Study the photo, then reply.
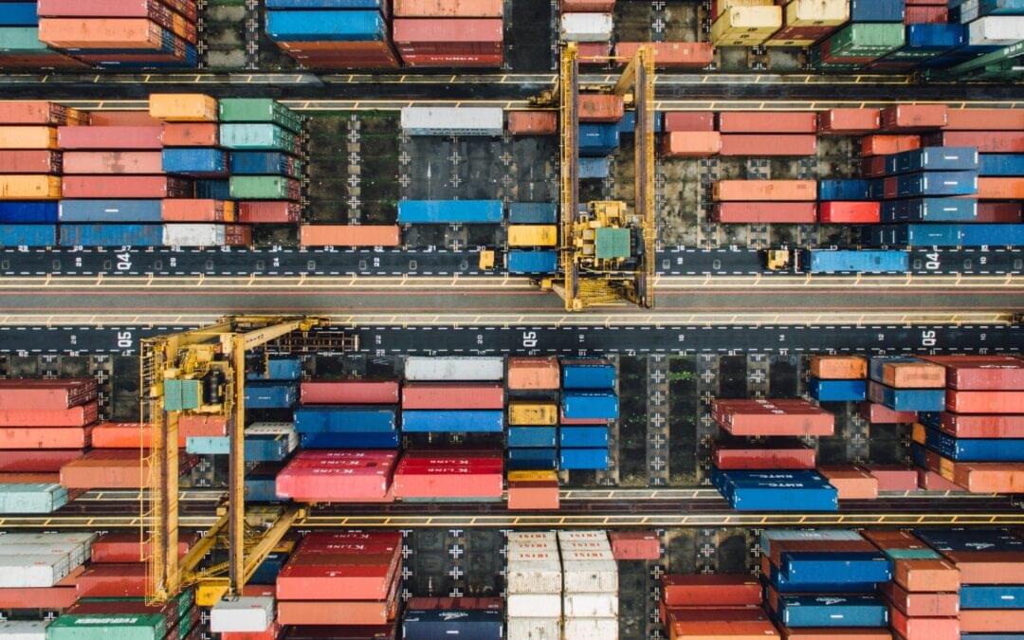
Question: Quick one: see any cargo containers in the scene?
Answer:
Yes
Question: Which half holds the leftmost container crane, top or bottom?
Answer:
bottom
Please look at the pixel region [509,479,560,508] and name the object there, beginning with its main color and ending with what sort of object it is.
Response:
red shipping container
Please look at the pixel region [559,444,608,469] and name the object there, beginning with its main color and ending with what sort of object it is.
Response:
blue shipping container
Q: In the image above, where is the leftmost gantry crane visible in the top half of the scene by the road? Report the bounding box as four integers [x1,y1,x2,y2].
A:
[528,42,660,310]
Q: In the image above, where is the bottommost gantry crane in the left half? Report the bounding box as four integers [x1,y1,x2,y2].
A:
[141,311,329,608]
